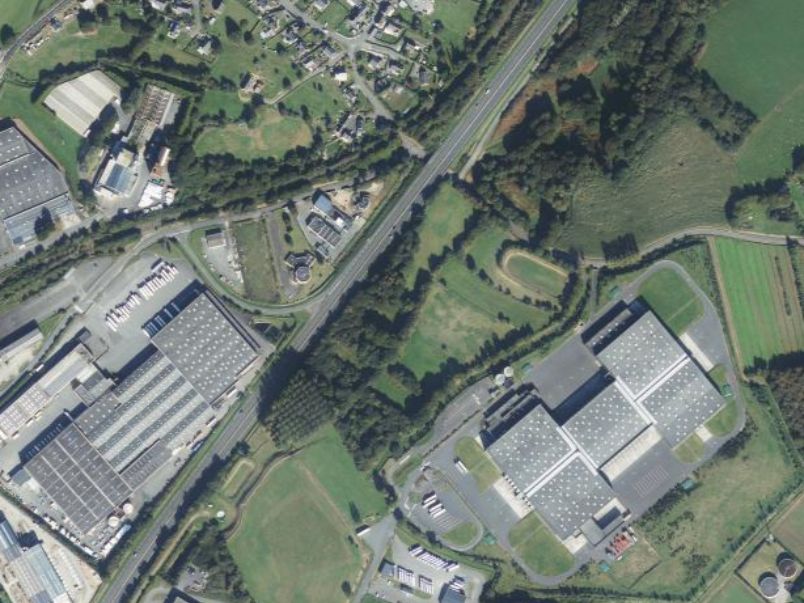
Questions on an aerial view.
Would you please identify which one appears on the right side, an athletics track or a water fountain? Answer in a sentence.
It is an athletics track that can be seen on the right side.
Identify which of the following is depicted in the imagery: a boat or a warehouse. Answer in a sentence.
There is a warehouse in the scene.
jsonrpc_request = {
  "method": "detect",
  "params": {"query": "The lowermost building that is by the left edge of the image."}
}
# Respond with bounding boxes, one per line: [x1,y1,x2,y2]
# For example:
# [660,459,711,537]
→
[11,543,71,603]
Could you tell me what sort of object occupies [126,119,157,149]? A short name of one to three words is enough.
shed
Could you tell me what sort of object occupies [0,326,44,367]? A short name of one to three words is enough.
shed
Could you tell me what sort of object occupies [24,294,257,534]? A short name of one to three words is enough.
building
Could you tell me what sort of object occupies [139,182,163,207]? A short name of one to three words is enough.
building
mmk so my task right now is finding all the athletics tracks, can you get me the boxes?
[494,248,573,304]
